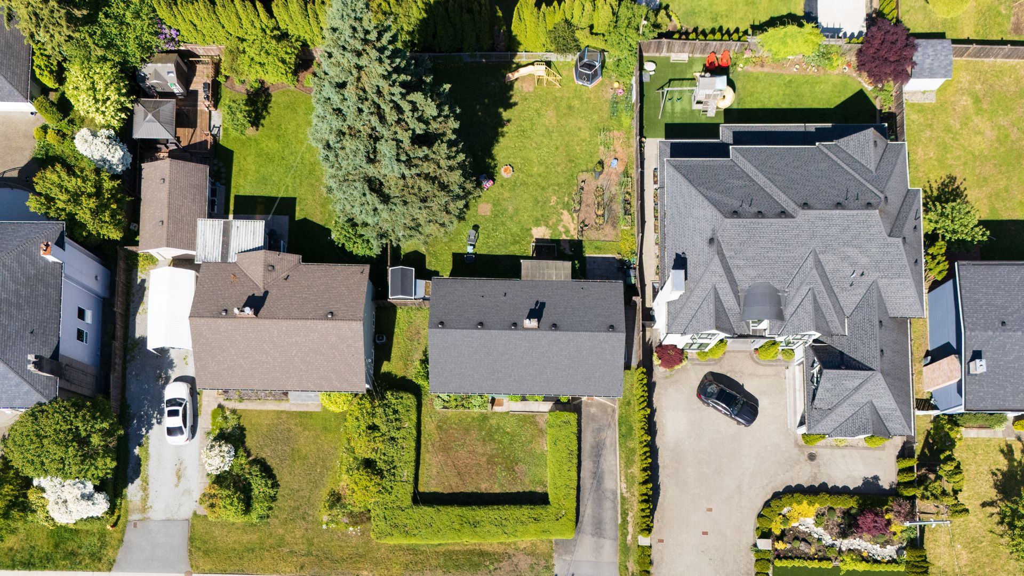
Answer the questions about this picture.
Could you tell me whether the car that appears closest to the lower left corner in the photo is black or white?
white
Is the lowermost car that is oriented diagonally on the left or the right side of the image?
right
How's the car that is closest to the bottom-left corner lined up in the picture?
up and down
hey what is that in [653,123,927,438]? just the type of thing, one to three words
house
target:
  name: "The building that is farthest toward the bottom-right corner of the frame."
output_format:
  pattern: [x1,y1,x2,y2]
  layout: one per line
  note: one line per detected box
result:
[923,260,1024,414]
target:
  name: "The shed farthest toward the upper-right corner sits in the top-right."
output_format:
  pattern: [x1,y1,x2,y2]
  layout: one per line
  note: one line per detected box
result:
[906,39,954,91]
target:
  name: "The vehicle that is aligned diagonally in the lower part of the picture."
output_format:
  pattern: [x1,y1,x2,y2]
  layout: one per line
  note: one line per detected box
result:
[700,377,760,426]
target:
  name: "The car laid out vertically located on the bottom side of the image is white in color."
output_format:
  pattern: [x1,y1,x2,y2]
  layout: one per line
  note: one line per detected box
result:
[162,384,193,447]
